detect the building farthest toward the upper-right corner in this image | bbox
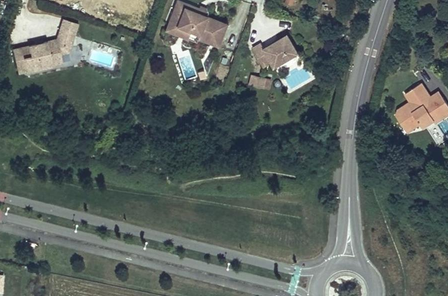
[395,83,448,134]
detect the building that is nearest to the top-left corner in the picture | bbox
[12,18,78,74]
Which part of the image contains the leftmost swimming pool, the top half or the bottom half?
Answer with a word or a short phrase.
top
